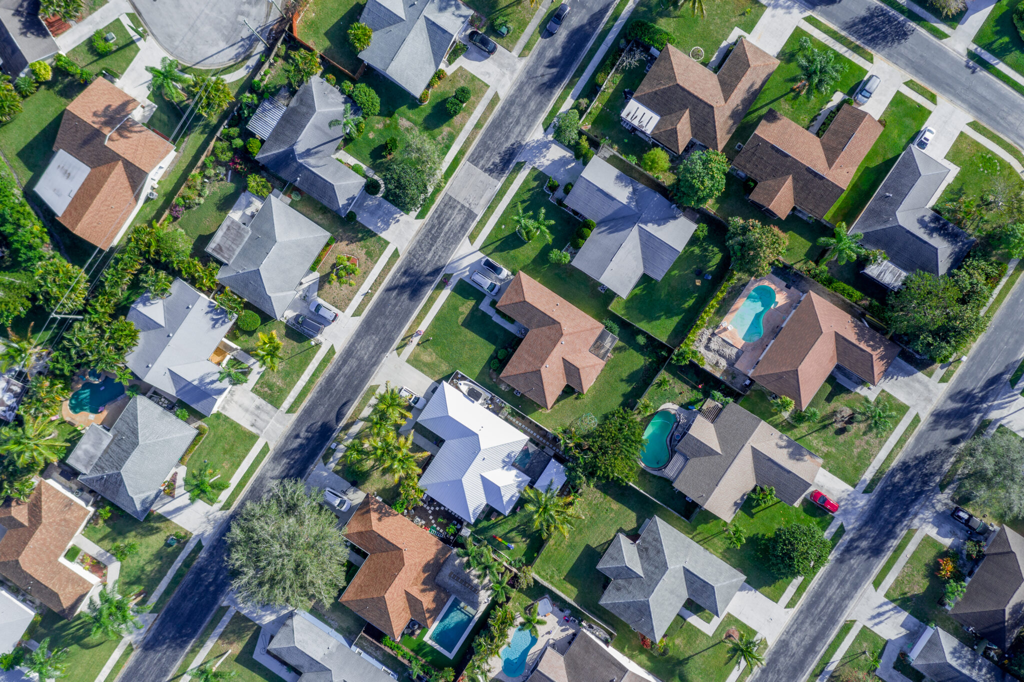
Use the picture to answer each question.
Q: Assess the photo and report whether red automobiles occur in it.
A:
Yes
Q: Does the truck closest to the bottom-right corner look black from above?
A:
Yes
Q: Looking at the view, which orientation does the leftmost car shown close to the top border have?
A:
at an angle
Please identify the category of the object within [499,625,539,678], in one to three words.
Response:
swimming pool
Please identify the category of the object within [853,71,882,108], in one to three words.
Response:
car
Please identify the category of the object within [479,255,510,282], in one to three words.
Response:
car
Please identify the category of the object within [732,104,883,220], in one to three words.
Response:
house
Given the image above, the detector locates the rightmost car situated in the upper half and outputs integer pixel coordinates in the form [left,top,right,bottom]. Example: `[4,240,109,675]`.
[912,123,937,153]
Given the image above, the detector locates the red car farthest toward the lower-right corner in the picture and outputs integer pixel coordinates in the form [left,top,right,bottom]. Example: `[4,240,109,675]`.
[808,487,840,511]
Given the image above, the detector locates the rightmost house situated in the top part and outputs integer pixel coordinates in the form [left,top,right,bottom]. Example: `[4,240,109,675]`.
[847,144,976,292]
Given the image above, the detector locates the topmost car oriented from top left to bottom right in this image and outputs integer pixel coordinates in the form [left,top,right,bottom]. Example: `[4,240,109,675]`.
[467,29,499,57]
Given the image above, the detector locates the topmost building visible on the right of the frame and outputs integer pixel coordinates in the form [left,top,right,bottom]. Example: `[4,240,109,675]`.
[618,38,780,154]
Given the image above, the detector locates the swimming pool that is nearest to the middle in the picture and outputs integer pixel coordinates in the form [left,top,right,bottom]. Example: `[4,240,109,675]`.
[513,440,534,471]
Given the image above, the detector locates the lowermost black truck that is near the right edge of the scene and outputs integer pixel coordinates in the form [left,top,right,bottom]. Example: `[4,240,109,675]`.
[948,503,990,537]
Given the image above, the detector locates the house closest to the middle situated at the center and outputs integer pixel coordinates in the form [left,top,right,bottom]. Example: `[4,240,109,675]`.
[496,271,606,410]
